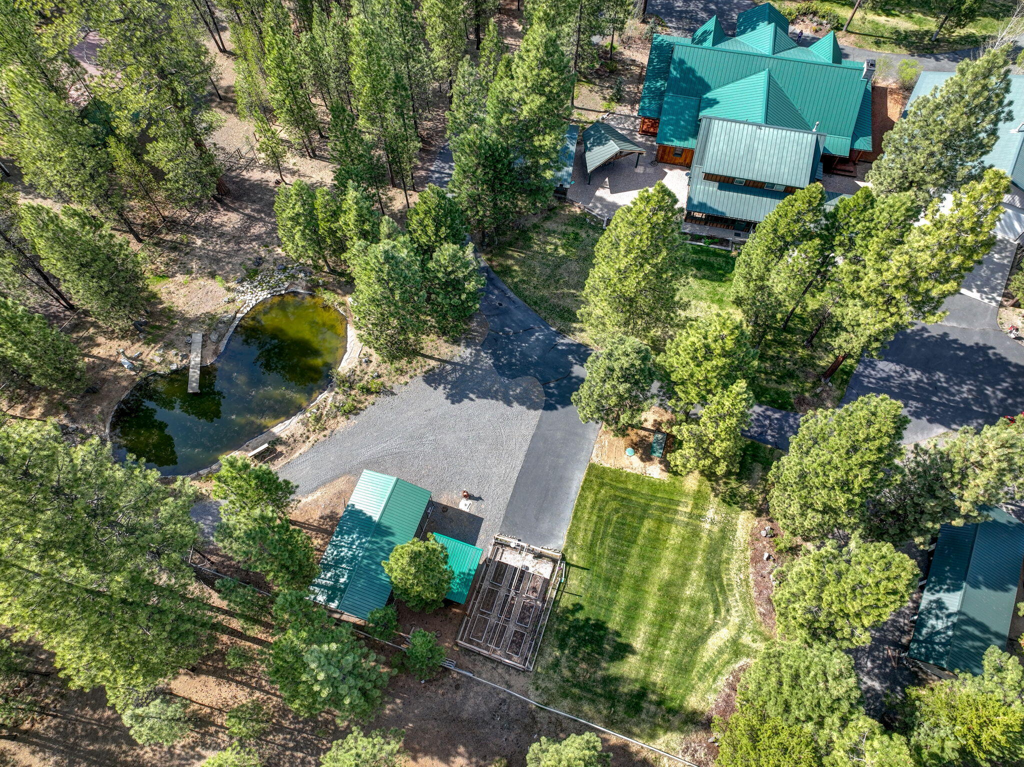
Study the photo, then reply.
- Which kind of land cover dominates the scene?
trees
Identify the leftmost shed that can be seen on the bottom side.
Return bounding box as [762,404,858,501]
[305,470,434,621]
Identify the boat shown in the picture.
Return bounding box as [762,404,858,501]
[120,357,137,371]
